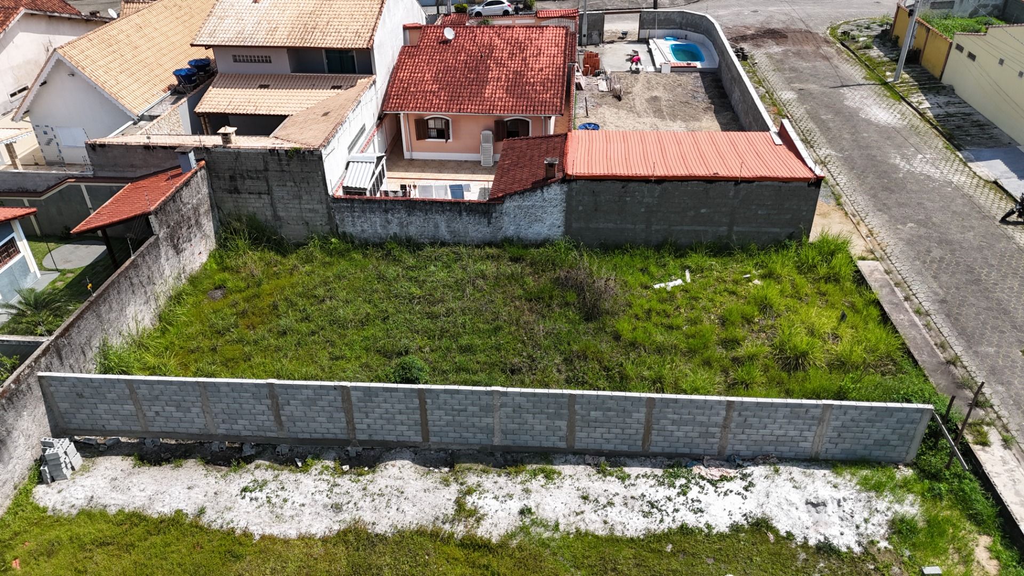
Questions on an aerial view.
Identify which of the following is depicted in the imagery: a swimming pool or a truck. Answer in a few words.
swimming pool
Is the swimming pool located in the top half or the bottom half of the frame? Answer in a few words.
top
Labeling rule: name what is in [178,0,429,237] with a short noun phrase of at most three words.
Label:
house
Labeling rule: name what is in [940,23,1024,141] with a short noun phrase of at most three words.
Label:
building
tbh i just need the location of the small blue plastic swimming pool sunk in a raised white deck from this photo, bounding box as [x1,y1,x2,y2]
[646,31,724,78]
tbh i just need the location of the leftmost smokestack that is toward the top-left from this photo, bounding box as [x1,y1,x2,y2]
[166,143,195,171]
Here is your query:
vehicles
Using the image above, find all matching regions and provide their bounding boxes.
[469,0,512,13]
[998,191,1024,222]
